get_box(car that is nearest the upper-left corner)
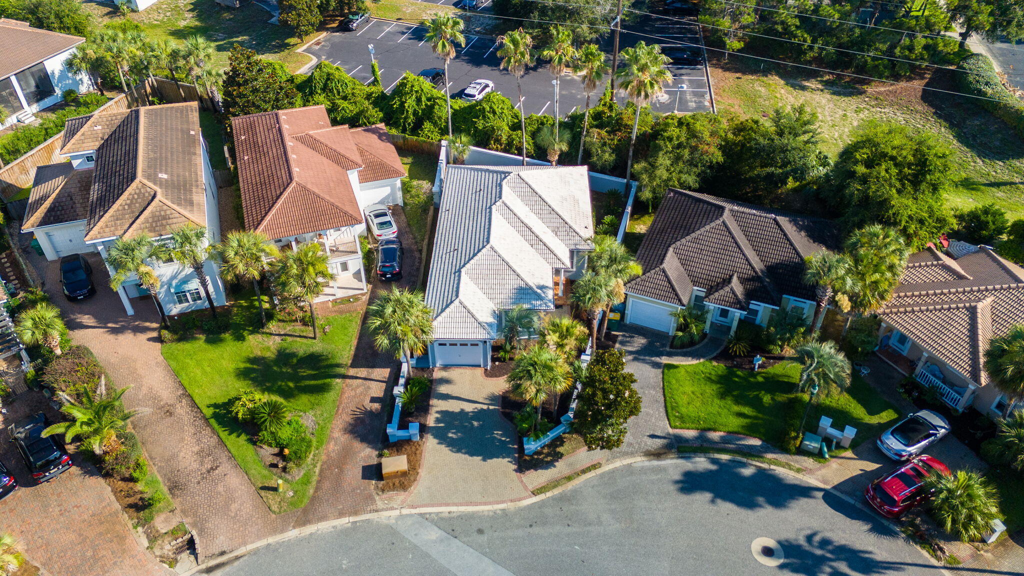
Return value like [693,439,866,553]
[56,251,98,303]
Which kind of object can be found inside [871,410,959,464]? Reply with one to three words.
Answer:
car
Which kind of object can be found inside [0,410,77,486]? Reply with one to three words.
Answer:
car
